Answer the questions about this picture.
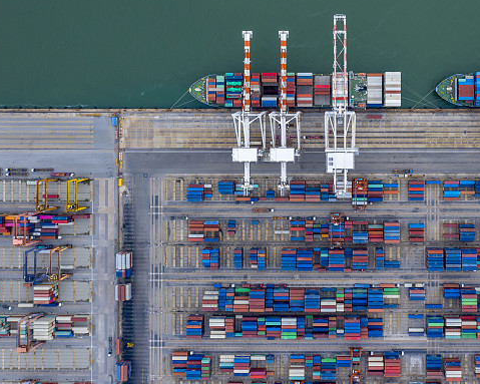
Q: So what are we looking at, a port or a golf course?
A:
port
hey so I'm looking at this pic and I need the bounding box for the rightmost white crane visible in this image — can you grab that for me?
[321,14,360,199]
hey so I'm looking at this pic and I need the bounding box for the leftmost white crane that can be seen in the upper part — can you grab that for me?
[232,30,269,197]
